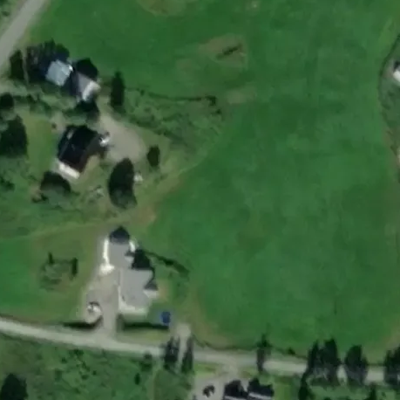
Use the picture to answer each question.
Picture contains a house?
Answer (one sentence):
Yes, the frame does contain a house.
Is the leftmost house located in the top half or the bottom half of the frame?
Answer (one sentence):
Seen from above, the leftmost house lies in the top half of the view.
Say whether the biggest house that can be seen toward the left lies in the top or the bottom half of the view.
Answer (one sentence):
The bottom half of the photo is where the biggest house that can be seen toward the left is.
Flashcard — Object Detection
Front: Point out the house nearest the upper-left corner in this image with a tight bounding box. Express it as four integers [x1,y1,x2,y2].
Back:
[45,57,72,85]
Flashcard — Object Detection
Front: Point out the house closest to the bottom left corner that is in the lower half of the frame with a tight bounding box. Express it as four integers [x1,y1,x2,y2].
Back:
[100,238,158,313]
